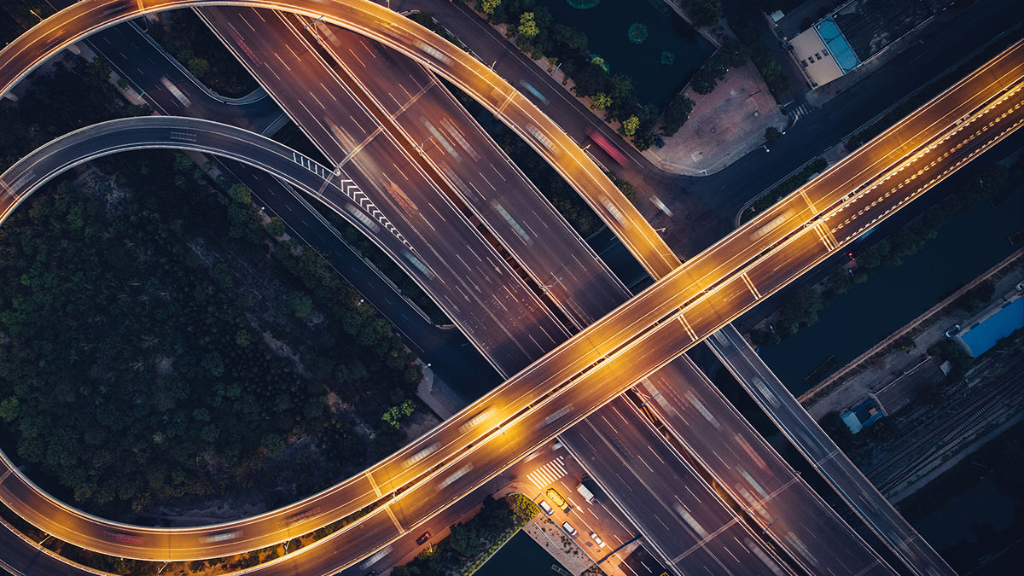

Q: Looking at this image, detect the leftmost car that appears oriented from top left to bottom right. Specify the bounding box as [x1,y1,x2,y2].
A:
[168,84,186,101]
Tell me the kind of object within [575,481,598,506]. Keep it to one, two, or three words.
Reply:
truck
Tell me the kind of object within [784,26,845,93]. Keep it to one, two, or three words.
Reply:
building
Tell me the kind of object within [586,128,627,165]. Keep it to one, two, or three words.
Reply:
bus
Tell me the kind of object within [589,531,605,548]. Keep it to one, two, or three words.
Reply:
car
